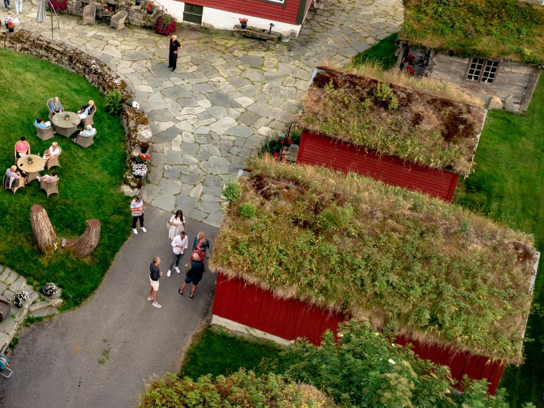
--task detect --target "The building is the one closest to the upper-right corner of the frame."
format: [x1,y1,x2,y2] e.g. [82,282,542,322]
[391,0,544,110]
